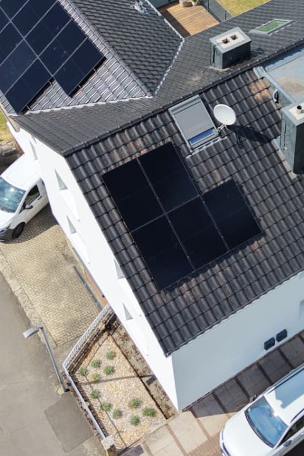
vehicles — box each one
[228,372,304,456]
[0,128,45,237]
